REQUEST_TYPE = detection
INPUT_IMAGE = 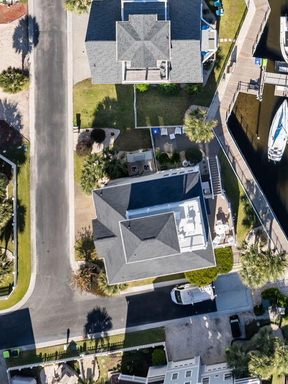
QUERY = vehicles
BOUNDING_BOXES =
[170,285,216,310]
[229,313,242,340]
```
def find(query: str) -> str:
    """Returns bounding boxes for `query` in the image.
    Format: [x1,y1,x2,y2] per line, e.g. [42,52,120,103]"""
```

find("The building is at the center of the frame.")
[91,157,237,286]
